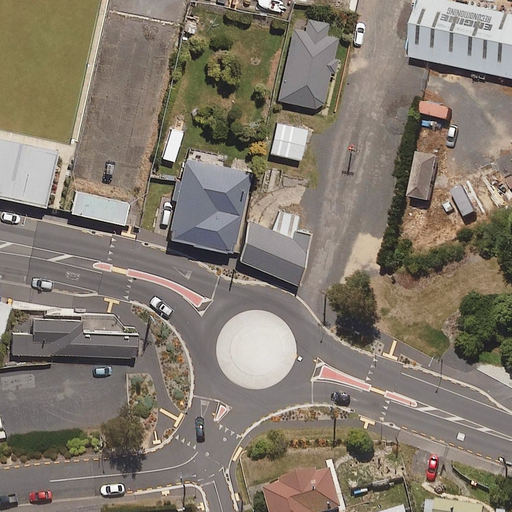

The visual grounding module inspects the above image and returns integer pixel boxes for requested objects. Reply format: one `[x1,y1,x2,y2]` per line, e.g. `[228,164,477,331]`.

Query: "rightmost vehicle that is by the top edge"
[354,22,366,48]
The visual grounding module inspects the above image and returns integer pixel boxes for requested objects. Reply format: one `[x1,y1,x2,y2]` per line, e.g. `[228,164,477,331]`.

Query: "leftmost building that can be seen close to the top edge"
[278,19,339,110]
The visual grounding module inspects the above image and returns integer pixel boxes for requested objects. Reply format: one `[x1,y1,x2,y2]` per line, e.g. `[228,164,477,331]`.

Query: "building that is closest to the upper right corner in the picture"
[408,0,512,79]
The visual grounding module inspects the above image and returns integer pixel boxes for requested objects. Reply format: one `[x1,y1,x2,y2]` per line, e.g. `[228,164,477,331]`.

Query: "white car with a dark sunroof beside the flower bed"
[150,297,173,317]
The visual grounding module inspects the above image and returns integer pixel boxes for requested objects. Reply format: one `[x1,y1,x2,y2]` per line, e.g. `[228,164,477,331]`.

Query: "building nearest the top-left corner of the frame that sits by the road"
[0,138,58,208]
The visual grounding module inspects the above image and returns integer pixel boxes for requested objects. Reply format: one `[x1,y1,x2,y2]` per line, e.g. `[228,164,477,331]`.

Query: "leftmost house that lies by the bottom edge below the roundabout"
[262,466,340,512]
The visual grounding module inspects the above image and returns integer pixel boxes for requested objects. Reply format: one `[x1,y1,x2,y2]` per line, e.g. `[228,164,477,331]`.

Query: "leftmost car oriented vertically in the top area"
[103,160,115,184]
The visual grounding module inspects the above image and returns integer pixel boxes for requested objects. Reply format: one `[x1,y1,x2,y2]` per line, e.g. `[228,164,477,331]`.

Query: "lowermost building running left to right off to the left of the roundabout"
[11,302,139,366]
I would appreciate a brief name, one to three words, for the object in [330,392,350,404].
vehicle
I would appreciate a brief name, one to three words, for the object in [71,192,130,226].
building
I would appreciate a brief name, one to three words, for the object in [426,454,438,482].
vehicle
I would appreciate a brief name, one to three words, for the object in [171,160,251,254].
house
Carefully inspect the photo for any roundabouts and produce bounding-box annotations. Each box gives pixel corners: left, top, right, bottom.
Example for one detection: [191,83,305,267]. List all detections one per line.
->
[216,310,296,390]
